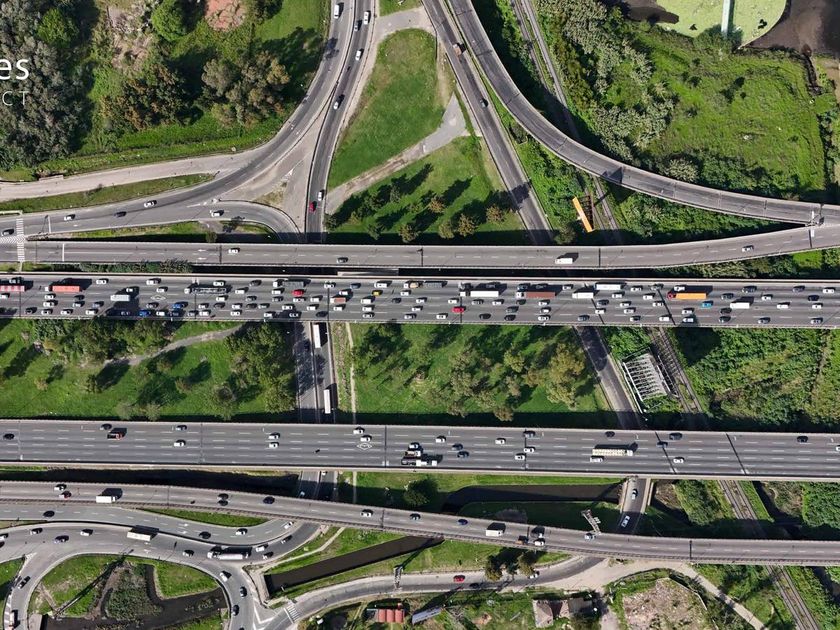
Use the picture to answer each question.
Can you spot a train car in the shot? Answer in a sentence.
No, the picture doesn't show any train car.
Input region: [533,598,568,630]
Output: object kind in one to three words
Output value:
house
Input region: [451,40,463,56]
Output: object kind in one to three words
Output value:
vehicle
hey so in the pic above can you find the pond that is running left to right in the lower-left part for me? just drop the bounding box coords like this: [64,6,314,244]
[44,562,229,630]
